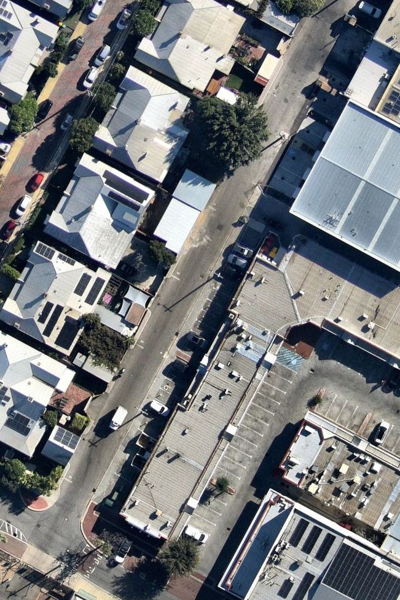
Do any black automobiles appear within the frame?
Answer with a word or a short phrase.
Yes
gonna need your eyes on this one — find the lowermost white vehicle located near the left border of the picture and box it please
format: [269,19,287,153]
[14,194,32,218]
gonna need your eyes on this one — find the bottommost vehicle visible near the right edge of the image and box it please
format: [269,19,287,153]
[373,421,391,444]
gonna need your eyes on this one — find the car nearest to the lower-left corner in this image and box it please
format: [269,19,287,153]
[115,540,133,563]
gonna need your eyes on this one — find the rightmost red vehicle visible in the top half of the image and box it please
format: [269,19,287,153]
[28,172,43,193]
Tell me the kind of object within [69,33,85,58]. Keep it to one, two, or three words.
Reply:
car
